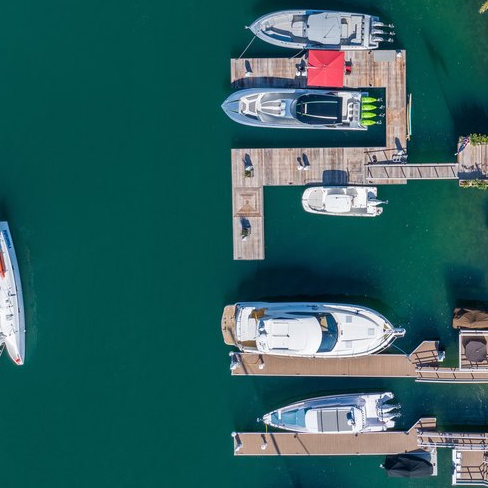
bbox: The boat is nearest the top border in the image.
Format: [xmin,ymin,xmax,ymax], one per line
[246,9,394,49]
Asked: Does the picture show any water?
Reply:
Yes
